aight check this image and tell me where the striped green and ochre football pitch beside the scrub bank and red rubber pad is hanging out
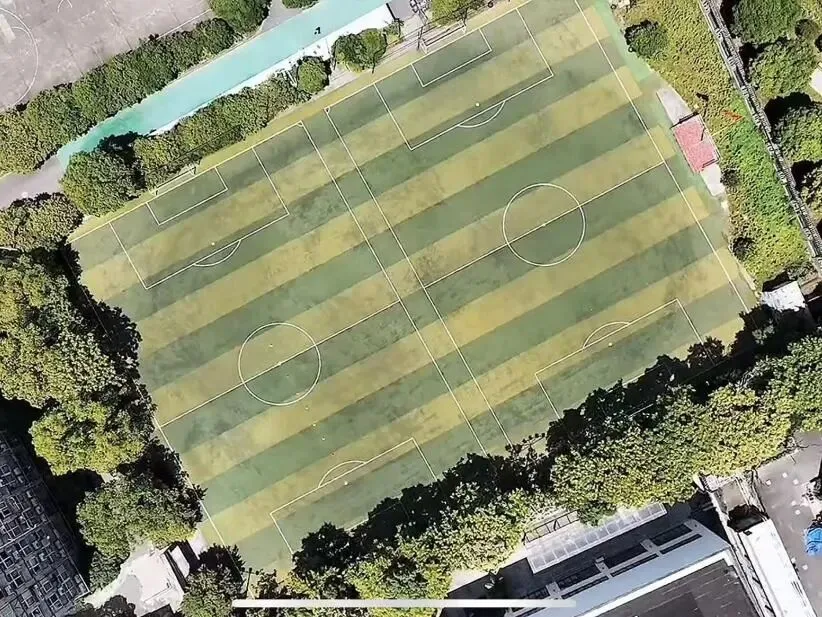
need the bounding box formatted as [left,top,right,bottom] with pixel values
[328,0,758,455]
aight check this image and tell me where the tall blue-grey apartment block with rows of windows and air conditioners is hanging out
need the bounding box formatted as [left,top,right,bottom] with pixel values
[0,417,89,617]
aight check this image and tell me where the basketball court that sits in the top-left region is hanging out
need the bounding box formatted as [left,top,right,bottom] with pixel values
[0,0,229,122]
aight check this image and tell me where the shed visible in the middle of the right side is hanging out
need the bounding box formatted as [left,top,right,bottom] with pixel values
[753,280,808,320]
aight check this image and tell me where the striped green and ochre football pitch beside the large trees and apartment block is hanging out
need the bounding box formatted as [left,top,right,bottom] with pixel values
[64,124,491,604]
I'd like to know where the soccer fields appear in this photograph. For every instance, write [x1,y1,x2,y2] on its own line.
[64,124,491,604]
[328,0,758,455]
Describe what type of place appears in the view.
sports ground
